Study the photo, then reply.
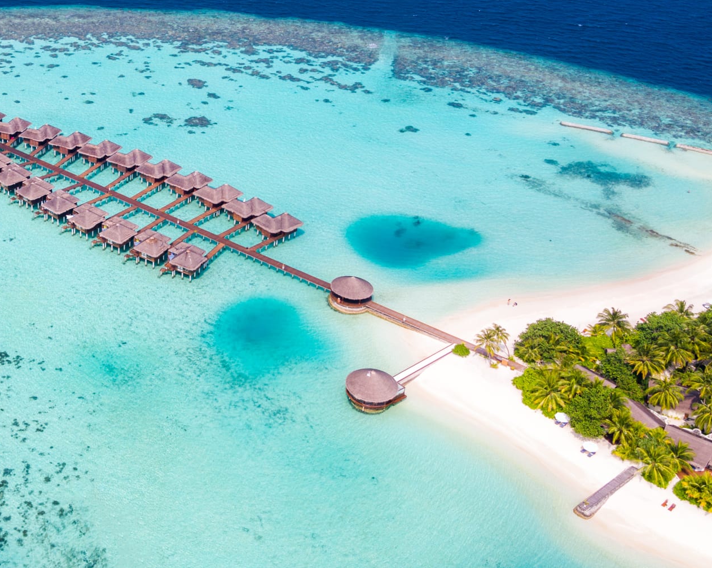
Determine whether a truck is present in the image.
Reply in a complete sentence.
No, the photo shows no truck.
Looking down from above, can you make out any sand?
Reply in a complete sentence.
Yes, sand shows up in the scene.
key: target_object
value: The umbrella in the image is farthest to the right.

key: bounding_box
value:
[581,443,598,457]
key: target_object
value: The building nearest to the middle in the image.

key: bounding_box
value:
[326,276,375,320]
